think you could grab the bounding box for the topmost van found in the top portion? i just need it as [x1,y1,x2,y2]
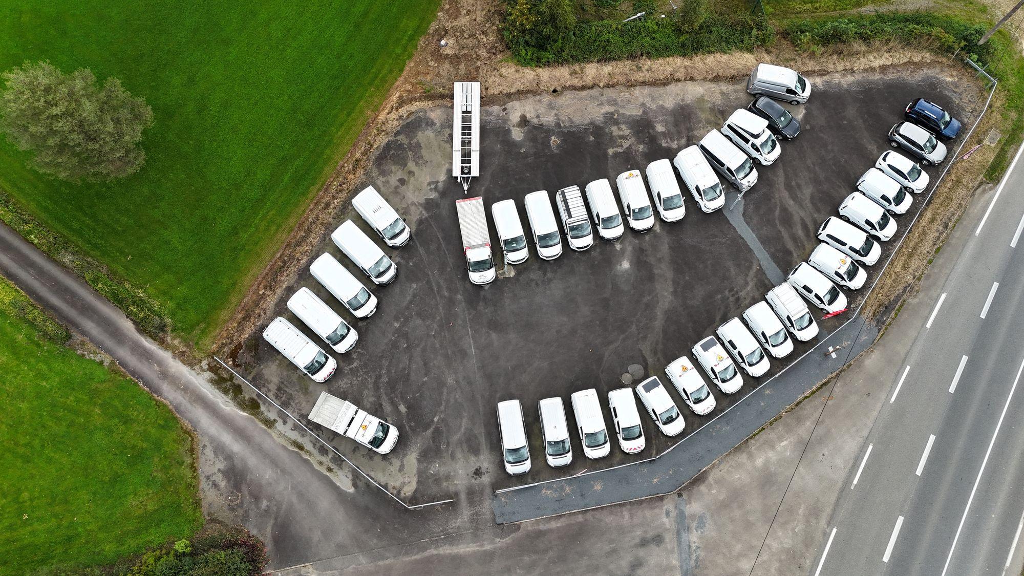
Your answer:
[748,63,812,106]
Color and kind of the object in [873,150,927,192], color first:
white car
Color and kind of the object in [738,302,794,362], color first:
white van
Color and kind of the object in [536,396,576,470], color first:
white vehicle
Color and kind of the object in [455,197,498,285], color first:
white truck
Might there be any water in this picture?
No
